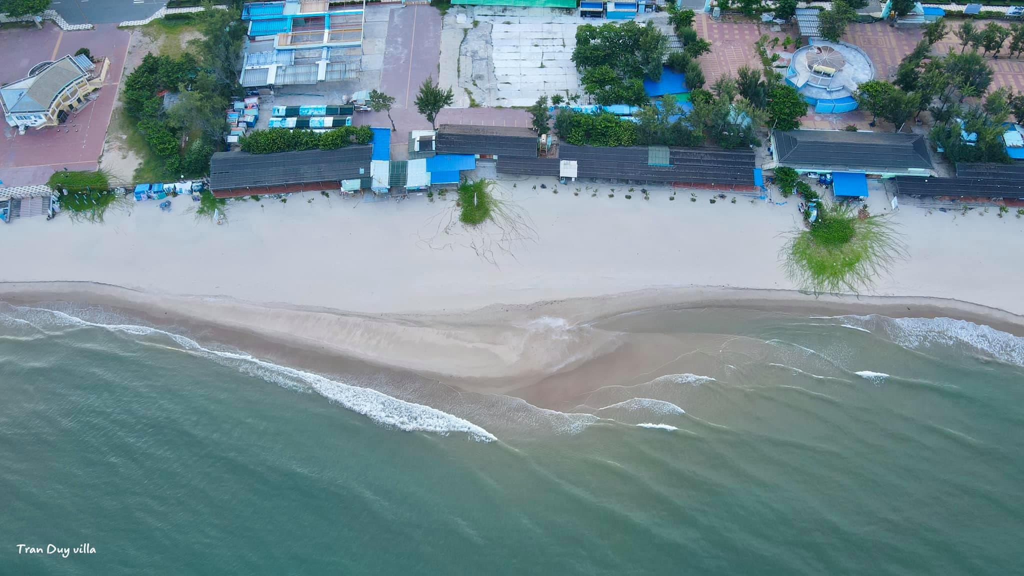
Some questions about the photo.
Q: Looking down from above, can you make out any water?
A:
Yes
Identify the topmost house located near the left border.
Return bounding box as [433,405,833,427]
[0,54,114,133]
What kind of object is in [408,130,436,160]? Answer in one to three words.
house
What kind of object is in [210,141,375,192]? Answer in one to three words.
building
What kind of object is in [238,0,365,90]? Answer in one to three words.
shed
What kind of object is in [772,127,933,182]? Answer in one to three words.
building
